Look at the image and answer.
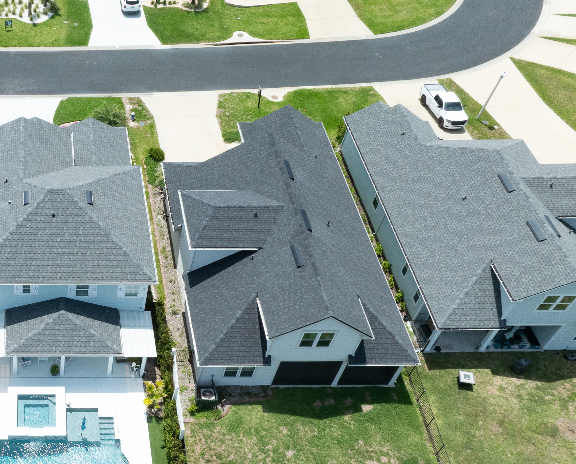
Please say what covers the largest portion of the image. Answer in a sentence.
The largest share of the image is taken up by buildings.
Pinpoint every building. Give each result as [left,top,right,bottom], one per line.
[0,118,159,377]
[162,102,422,388]
[342,101,576,352]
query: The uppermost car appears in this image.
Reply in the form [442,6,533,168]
[120,0,141,13]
